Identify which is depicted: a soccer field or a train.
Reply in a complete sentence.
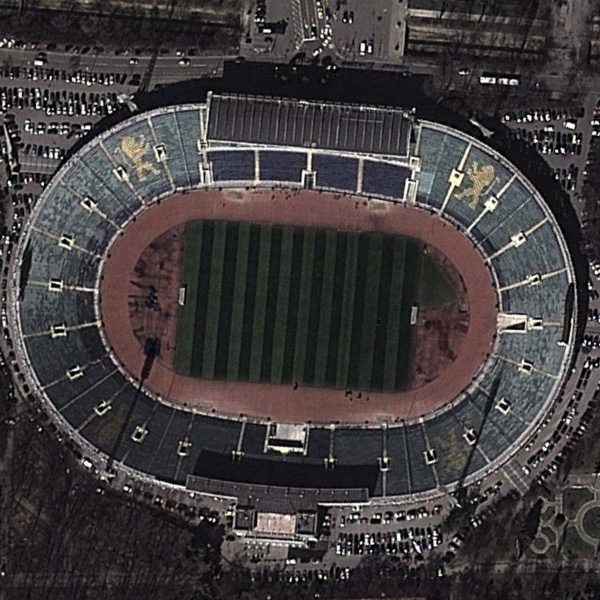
There is a soccer field in the scene.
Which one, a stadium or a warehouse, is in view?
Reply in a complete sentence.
Visible in the photo is a stadium.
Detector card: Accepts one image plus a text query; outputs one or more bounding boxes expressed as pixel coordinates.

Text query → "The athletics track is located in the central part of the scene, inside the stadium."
[99,185,497,424]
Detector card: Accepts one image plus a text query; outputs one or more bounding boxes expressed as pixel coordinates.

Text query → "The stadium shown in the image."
[12,91,578,546]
